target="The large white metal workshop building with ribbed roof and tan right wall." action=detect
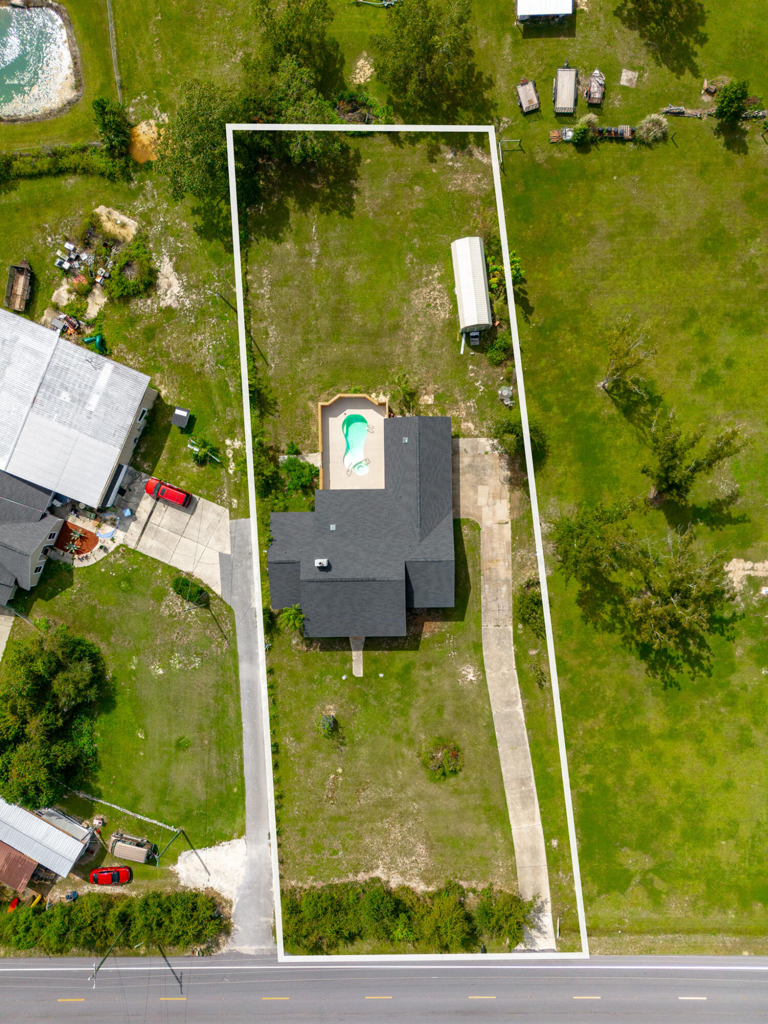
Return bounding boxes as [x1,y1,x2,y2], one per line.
[0,313,158,508]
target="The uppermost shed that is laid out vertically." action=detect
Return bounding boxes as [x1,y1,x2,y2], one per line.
[453,233,493,332]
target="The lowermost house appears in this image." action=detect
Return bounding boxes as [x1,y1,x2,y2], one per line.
[0,780,96,893]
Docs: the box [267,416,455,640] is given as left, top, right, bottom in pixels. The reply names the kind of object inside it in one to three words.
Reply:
house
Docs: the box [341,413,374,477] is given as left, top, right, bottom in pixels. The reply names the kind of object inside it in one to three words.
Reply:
swimming pool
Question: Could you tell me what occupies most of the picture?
grass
